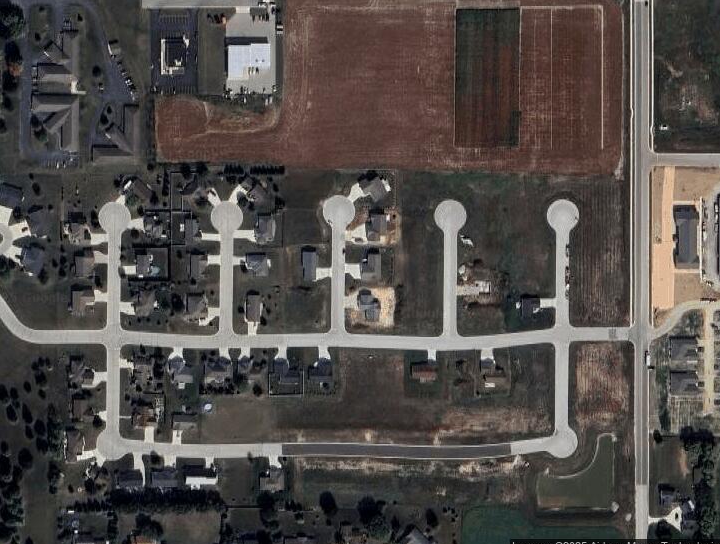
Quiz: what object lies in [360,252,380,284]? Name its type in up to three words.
house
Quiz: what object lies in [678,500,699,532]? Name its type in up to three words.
house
